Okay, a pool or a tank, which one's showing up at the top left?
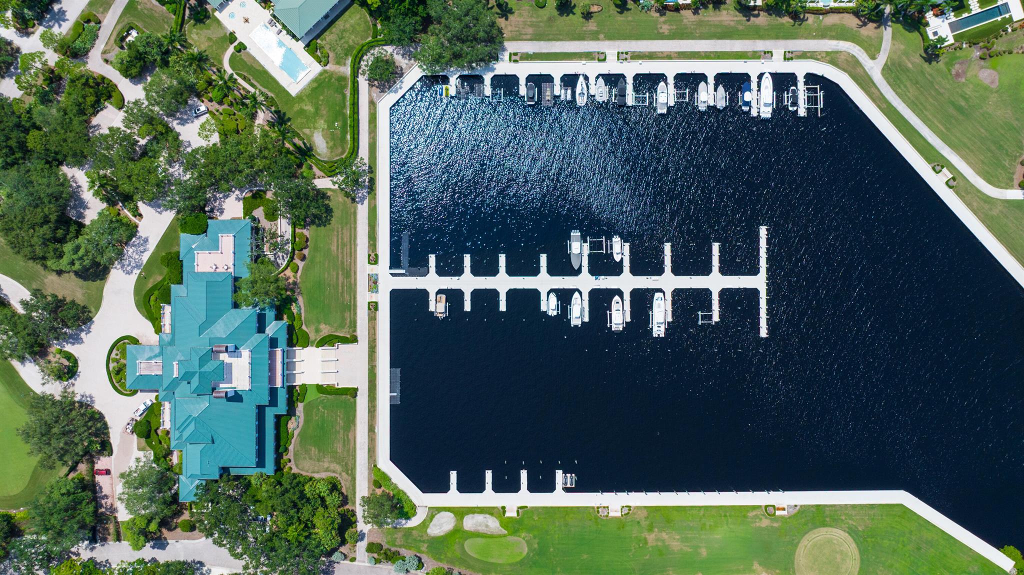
pool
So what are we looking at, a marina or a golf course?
marina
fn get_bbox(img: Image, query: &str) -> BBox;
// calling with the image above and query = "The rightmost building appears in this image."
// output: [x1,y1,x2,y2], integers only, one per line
[275,0,349,43]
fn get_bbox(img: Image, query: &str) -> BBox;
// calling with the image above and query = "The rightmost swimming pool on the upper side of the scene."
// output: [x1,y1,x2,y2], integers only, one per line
[949,1,1012,34]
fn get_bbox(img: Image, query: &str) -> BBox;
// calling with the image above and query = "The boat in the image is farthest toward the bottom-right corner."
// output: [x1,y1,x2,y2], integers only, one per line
[653,293,665,337]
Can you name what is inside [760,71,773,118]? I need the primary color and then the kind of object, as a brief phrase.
white boat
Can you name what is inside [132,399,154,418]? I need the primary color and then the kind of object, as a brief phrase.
white vehicle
